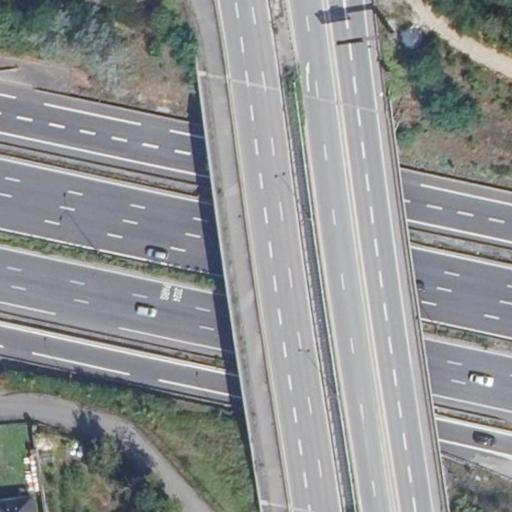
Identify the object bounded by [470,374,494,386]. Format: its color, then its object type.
white vehicle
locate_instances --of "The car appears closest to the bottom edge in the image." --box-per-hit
[472,432,496,445]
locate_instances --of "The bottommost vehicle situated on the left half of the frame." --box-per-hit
[136,304,158,317]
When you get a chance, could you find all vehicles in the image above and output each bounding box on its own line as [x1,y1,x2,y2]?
[470,374,494,386]
[472,432,496,445]
[416,280,424,290]
[136,304,158,317]
[147,248,168,260]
